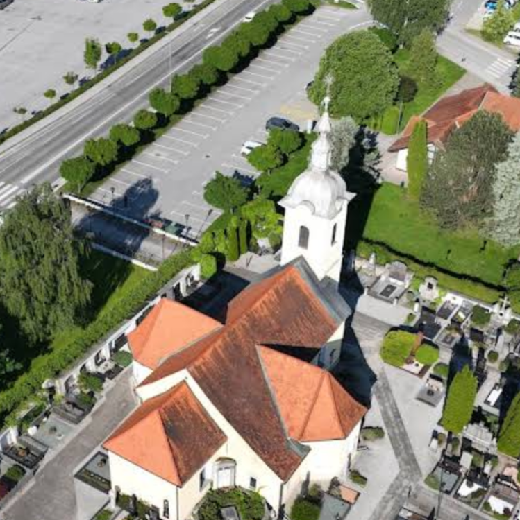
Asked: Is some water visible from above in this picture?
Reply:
No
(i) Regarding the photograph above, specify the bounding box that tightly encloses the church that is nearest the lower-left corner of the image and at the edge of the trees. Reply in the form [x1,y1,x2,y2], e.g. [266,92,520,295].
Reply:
[100,71,368,520]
